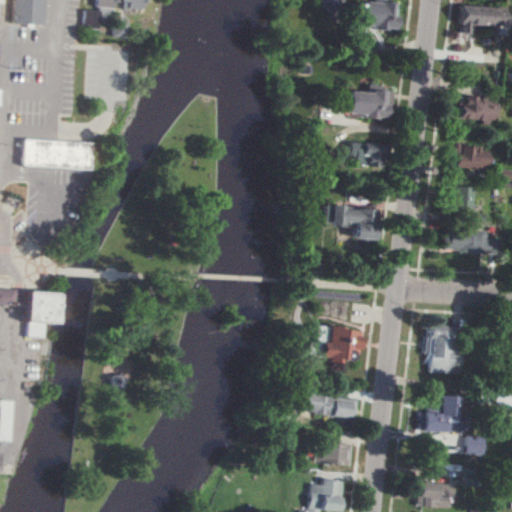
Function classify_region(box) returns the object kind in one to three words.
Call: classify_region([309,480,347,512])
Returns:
house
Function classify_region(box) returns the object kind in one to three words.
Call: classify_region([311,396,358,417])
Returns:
house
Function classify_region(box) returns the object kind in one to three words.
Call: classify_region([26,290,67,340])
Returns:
building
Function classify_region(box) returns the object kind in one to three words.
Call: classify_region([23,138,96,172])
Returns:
building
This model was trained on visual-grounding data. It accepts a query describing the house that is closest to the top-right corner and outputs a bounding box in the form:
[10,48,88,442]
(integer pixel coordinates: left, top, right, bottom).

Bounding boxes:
[460,4,512,32]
